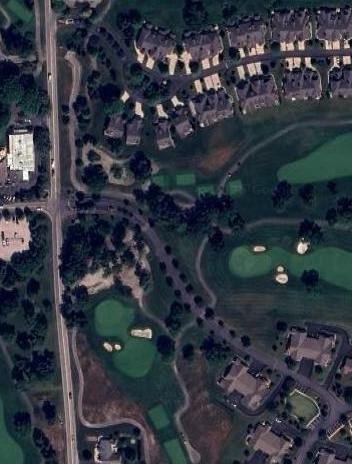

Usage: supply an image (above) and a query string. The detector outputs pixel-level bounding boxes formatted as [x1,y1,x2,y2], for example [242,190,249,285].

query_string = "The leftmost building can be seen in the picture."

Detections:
[6,129,34,181]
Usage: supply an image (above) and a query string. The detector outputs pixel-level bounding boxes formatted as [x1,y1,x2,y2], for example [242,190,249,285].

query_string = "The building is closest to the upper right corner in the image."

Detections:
[314,7,352,40]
